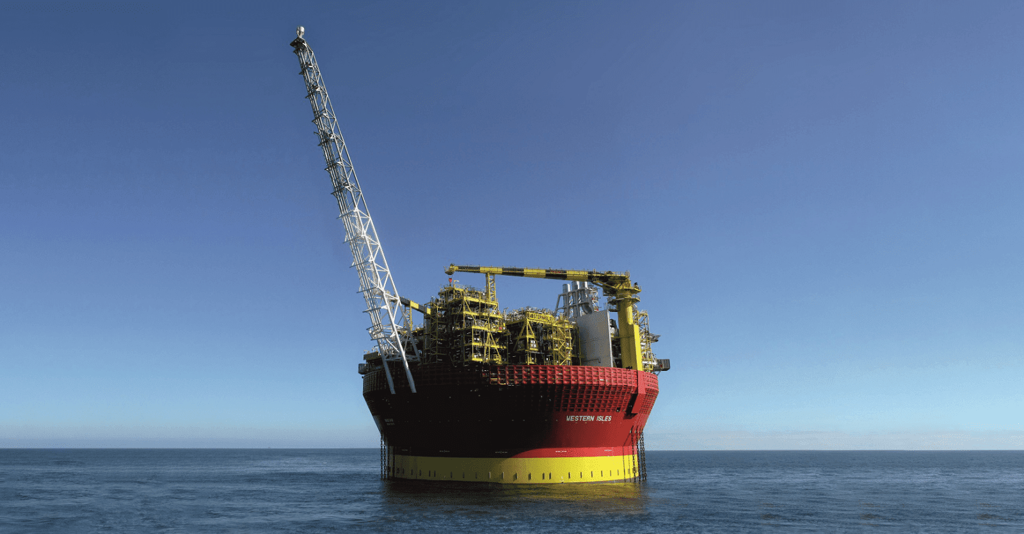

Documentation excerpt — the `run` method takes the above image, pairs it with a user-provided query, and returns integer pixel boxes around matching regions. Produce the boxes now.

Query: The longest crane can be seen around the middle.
[444,261,644,375]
